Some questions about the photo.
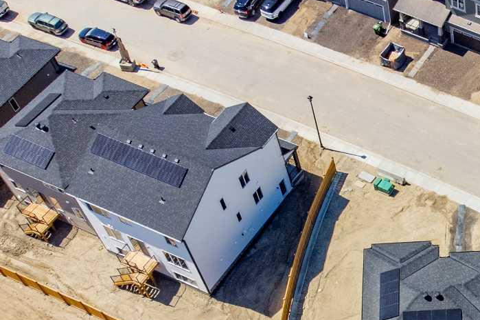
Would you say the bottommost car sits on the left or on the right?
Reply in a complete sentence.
The bottommost car sits on the left side.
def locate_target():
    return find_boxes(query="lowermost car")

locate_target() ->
[76,28,116,55]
